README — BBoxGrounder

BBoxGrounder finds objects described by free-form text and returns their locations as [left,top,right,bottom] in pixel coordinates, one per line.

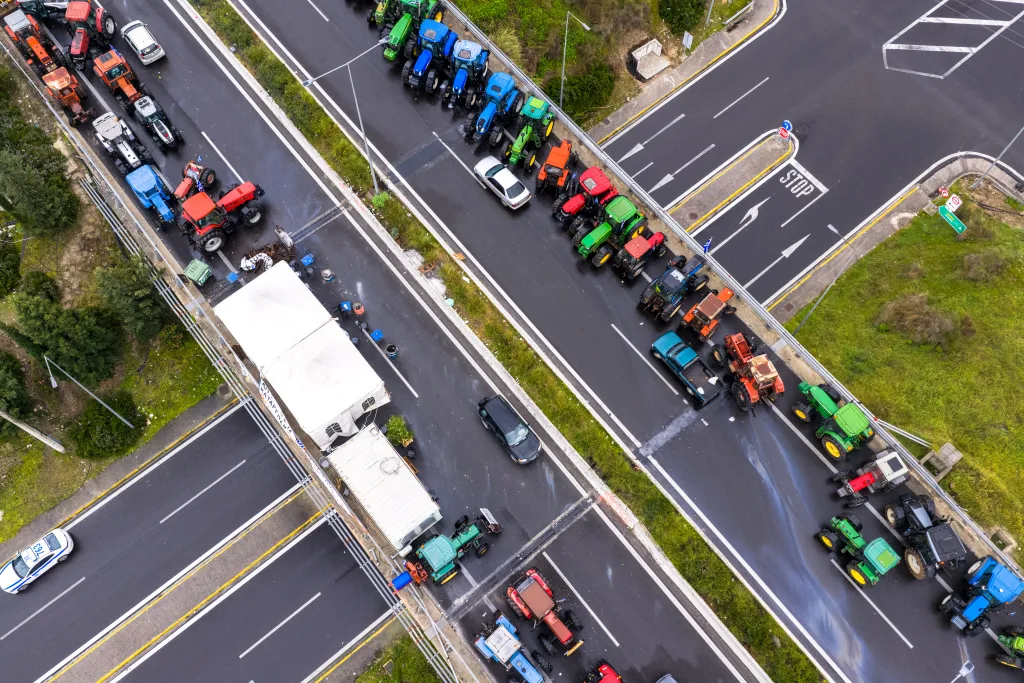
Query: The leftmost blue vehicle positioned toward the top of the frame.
[129,168,182,235]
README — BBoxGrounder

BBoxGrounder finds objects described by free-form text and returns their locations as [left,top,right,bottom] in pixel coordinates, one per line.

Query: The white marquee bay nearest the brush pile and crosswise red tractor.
[215,261,329,367]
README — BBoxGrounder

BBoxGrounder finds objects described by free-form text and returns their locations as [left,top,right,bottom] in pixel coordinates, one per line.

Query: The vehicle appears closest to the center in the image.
[475,392,541,466]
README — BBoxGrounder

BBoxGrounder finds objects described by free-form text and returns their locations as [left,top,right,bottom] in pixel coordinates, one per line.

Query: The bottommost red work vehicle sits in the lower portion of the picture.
[579,657,629,683]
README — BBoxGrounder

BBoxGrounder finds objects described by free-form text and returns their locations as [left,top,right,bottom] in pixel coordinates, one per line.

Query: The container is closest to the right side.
[327,422,444,561]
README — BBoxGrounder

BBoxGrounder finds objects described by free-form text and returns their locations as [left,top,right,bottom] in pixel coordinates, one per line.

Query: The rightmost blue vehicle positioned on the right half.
[933,554,1024,641]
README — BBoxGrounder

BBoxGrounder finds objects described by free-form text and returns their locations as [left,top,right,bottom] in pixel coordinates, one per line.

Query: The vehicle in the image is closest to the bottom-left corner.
[0,529,76,593]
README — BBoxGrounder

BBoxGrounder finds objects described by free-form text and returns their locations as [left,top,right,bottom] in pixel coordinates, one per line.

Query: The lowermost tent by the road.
[261,321,391,455]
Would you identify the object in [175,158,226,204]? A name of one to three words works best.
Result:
work vehicle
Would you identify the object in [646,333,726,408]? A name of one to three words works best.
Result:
truck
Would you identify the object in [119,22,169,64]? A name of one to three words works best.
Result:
car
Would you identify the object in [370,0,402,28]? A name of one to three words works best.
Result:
work vehicle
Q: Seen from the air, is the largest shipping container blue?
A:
No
